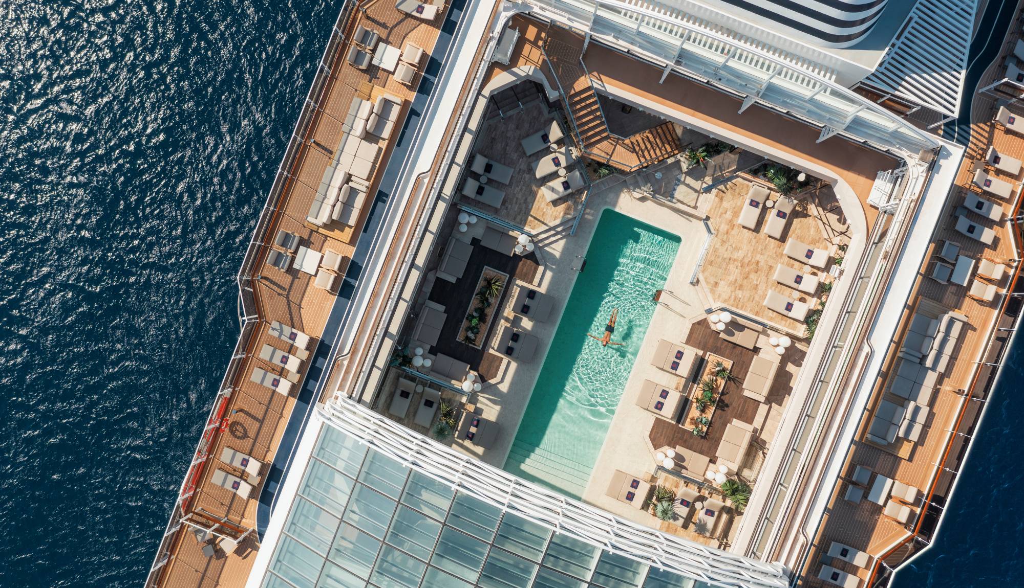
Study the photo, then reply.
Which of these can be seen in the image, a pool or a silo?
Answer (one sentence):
The one in the frame is a pool.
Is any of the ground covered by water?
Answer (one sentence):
Yes, there is water in the image.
